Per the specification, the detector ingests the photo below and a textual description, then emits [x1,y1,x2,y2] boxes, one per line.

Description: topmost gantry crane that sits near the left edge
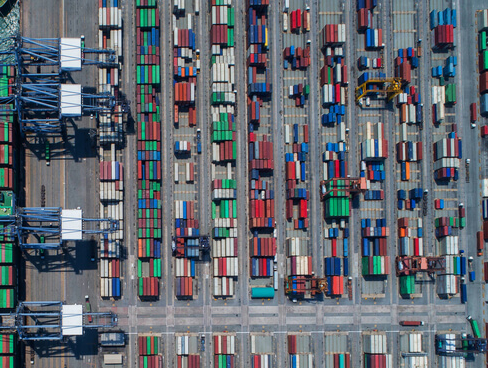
[0,34,115,101]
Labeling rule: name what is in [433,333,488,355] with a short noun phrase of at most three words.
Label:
container crane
